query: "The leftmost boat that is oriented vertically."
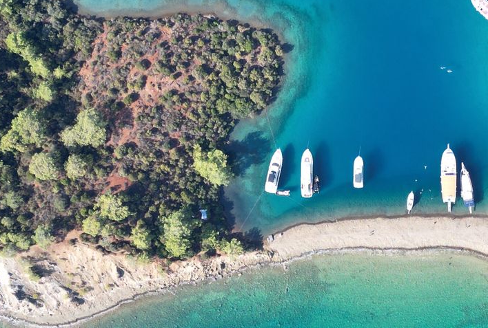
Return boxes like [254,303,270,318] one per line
[266,148,282,196]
